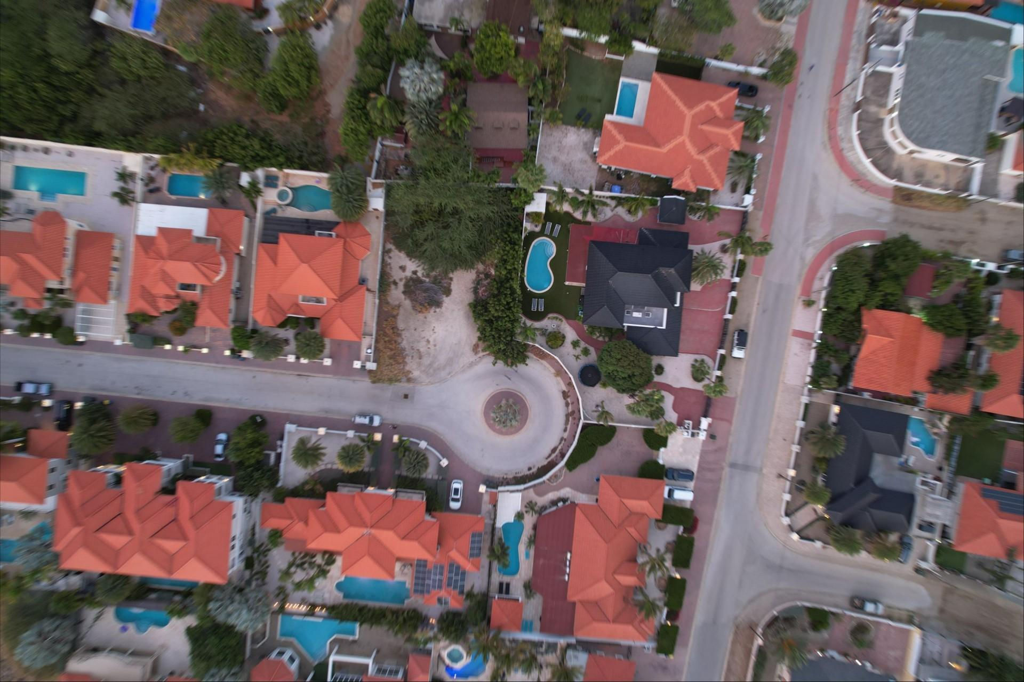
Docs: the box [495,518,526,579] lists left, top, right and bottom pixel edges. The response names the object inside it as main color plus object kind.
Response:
blue swimming pool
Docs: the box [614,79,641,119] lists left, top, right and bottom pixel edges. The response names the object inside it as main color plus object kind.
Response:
blue swimming pool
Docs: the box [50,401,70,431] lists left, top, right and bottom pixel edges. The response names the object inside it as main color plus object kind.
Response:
black car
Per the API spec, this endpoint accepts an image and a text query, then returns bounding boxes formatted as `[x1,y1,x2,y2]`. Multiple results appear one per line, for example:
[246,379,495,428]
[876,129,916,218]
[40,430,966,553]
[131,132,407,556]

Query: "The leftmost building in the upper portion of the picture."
[0,212,96,310]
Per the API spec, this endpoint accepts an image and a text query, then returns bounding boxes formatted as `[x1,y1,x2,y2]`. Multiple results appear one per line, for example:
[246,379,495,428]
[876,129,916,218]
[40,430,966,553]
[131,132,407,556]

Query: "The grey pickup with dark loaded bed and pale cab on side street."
[851,596,888,617]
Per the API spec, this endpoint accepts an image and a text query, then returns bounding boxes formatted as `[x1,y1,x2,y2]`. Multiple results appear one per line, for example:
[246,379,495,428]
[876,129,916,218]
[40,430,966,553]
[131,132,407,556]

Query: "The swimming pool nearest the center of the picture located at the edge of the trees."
[524,237,556,293]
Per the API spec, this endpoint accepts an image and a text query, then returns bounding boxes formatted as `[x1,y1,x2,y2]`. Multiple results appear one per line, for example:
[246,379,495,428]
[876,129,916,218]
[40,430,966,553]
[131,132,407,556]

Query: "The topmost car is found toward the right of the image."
[729,78,761,97]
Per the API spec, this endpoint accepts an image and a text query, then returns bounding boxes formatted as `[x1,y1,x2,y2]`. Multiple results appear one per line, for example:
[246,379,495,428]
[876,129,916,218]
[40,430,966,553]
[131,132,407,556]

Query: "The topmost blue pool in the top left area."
[130,0,158,35]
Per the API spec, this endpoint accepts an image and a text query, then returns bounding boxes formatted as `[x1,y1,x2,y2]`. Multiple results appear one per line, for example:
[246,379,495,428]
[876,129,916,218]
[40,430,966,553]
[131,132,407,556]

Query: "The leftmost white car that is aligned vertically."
[448,480,463,511]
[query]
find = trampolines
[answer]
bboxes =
[578,364,603,387]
